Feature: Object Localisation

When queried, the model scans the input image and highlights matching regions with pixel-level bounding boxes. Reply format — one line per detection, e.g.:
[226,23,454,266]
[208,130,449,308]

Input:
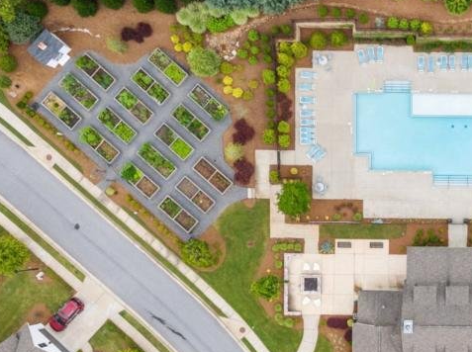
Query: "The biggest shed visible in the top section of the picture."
[20,23,70,75]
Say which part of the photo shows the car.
bottom left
